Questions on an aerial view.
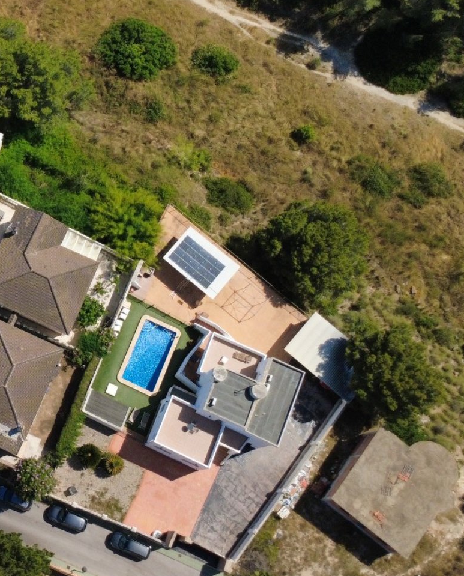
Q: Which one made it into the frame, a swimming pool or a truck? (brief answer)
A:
swimming pool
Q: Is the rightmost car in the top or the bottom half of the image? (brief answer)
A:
bottom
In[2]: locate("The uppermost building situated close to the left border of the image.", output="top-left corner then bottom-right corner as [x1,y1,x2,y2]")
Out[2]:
[0,205,102,336]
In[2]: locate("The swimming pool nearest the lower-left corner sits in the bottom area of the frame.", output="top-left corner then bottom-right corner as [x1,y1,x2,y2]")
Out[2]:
[121,318,179,391]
